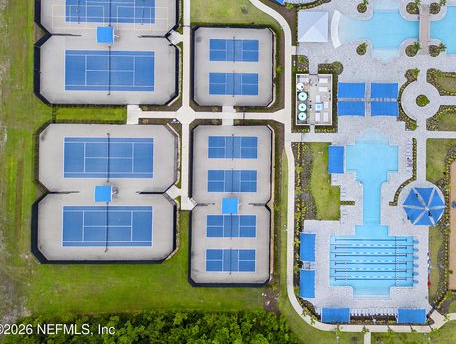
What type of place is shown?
sports ground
